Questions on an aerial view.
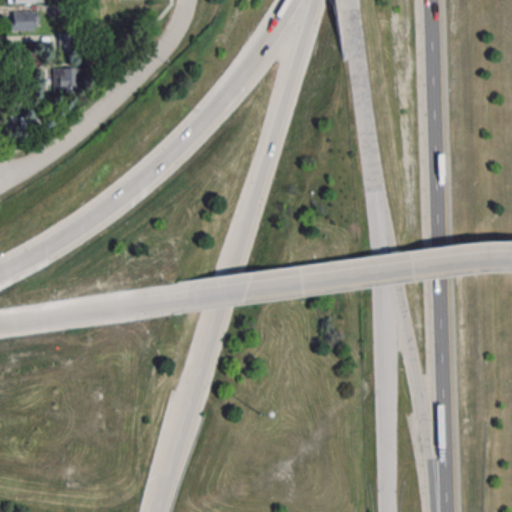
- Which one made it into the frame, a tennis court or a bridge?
bridge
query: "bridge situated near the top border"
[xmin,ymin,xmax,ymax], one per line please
[336,0,367,61]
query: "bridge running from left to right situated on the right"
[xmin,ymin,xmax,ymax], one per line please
[178,241,512,313]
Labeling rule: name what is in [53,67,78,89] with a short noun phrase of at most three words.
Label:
house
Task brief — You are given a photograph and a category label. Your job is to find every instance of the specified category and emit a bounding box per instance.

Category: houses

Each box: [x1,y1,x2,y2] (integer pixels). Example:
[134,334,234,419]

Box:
[14,11,40,32]
[53,67,78,89]
[15,0,45,8]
